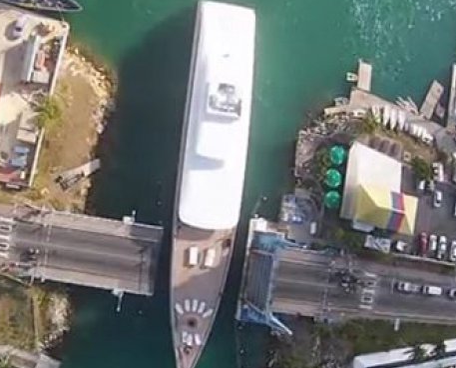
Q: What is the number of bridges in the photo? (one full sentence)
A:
Altogether the scene contains 2 bridges.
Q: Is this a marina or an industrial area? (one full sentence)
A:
The area seen from above is a marina.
